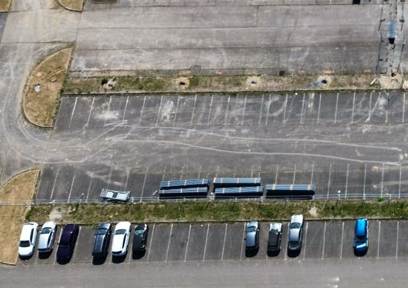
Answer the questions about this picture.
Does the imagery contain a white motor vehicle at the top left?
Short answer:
No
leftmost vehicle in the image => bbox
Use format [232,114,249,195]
[19,225,40,259]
